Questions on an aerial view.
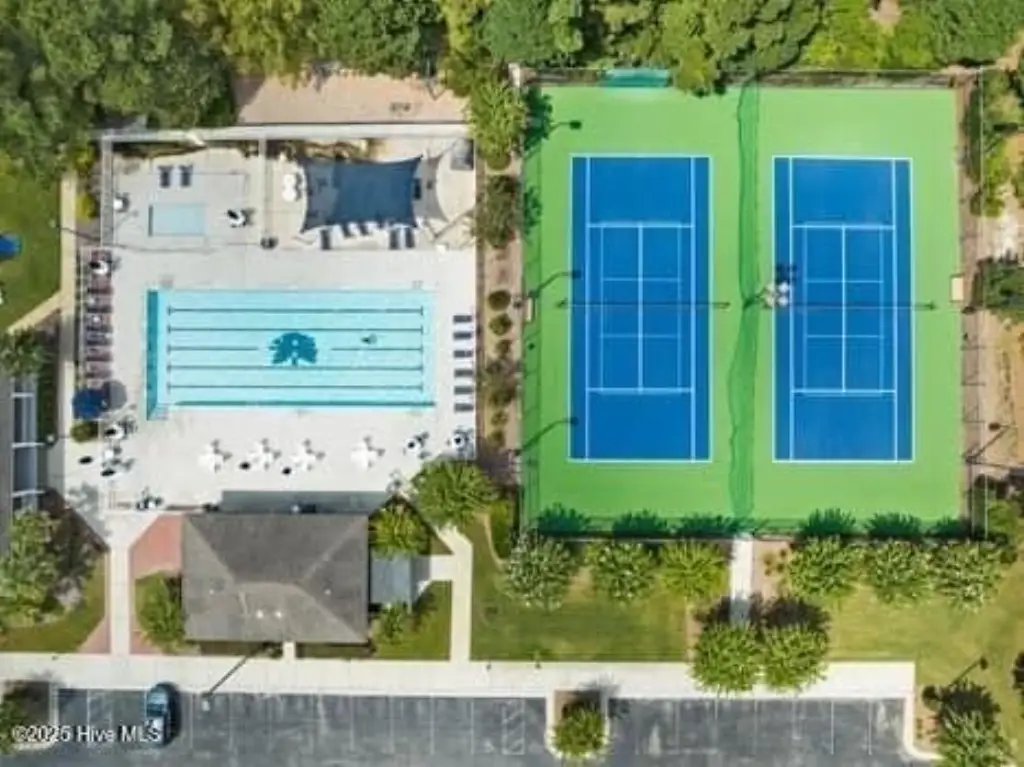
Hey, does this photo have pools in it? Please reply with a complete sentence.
Yes, this view includes a pool.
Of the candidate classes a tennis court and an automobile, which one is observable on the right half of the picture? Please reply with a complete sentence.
What appears on the right half of the picture is a tennis court.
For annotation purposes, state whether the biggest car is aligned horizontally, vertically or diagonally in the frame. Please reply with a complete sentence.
The biggest car is oriented vertically.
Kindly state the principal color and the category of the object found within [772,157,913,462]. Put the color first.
blue tennis court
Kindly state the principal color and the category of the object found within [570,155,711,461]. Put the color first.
blue tennis court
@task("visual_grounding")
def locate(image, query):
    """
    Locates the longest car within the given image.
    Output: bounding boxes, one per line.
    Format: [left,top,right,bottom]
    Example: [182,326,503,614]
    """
[144,684,177,747]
